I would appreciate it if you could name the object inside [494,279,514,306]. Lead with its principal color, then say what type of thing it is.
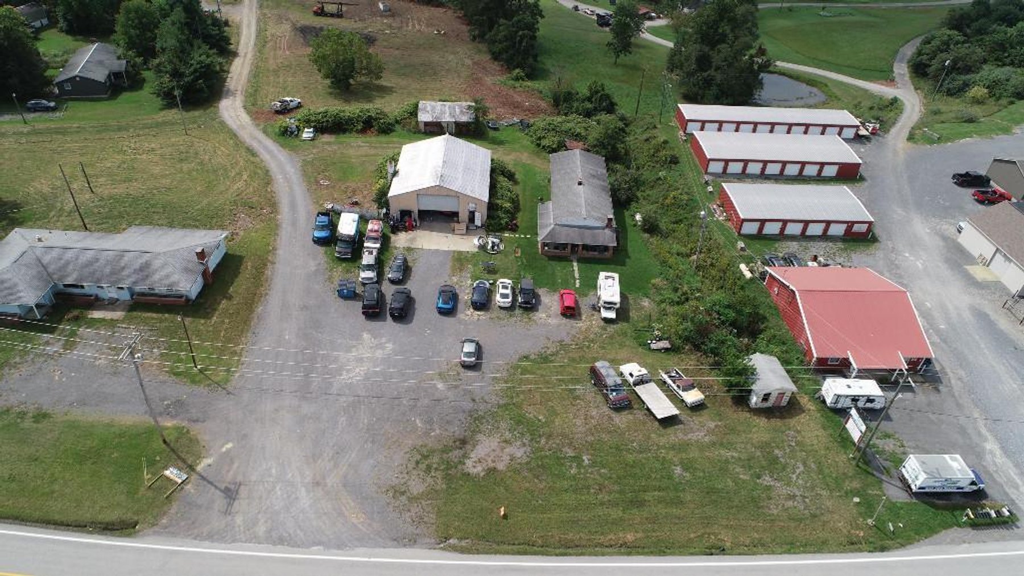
white car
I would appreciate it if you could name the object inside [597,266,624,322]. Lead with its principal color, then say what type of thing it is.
white camper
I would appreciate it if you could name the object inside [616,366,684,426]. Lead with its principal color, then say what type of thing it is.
white truck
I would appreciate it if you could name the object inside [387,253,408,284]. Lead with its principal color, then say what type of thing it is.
gray car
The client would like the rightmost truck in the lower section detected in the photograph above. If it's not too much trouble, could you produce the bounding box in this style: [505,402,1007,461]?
[888,458,987,501]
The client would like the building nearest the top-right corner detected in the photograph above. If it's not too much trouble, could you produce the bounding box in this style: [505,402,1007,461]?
[976,134,1024,198]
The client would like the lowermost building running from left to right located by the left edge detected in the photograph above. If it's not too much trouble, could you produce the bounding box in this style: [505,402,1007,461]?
[0,227,234,330]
